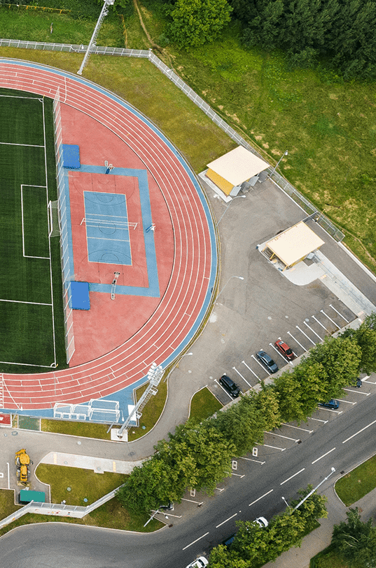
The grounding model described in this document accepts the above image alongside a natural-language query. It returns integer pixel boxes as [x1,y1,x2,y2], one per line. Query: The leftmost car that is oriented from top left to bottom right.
[219,373,242,397]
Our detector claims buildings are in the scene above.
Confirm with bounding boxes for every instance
[205,146,269,191]
[263,221,325,273]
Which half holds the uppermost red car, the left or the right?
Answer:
right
